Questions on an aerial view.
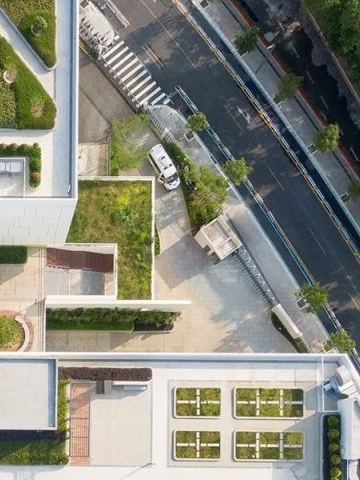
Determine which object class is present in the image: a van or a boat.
van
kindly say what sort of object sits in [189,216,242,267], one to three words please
building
